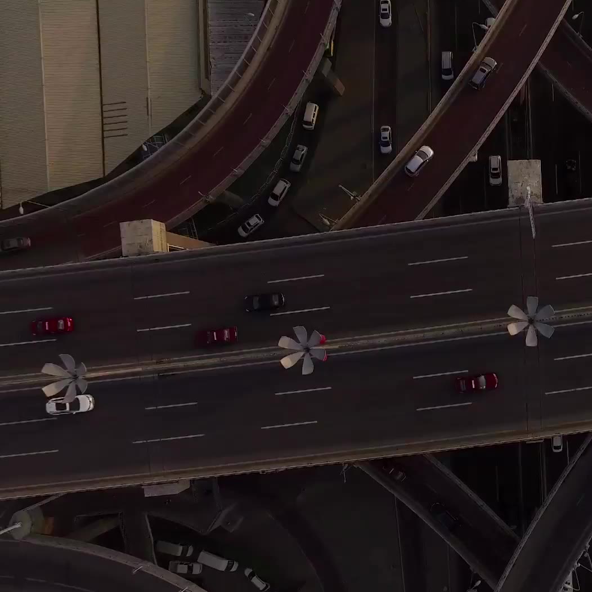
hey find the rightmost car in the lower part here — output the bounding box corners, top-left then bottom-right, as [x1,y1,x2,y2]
[550,434,565,453]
